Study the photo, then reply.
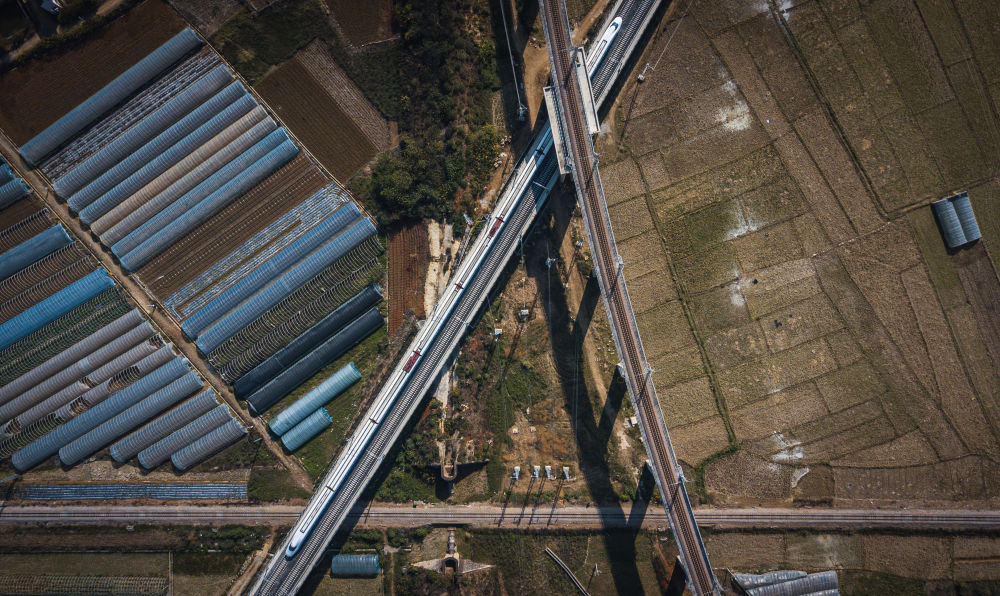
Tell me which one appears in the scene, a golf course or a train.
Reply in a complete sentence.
Of the two, only a train appears.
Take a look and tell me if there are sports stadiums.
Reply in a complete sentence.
No, the picture doesn't show any sports stadium.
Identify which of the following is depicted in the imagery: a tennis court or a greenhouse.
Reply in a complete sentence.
The image shows a greenhouse.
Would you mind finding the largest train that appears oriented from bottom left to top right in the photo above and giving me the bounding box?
[293,10,626,550]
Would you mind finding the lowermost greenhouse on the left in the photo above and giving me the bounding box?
[329,552,382,575]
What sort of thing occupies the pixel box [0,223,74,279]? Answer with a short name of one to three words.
greenhouse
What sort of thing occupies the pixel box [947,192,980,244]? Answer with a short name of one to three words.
greenhouse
